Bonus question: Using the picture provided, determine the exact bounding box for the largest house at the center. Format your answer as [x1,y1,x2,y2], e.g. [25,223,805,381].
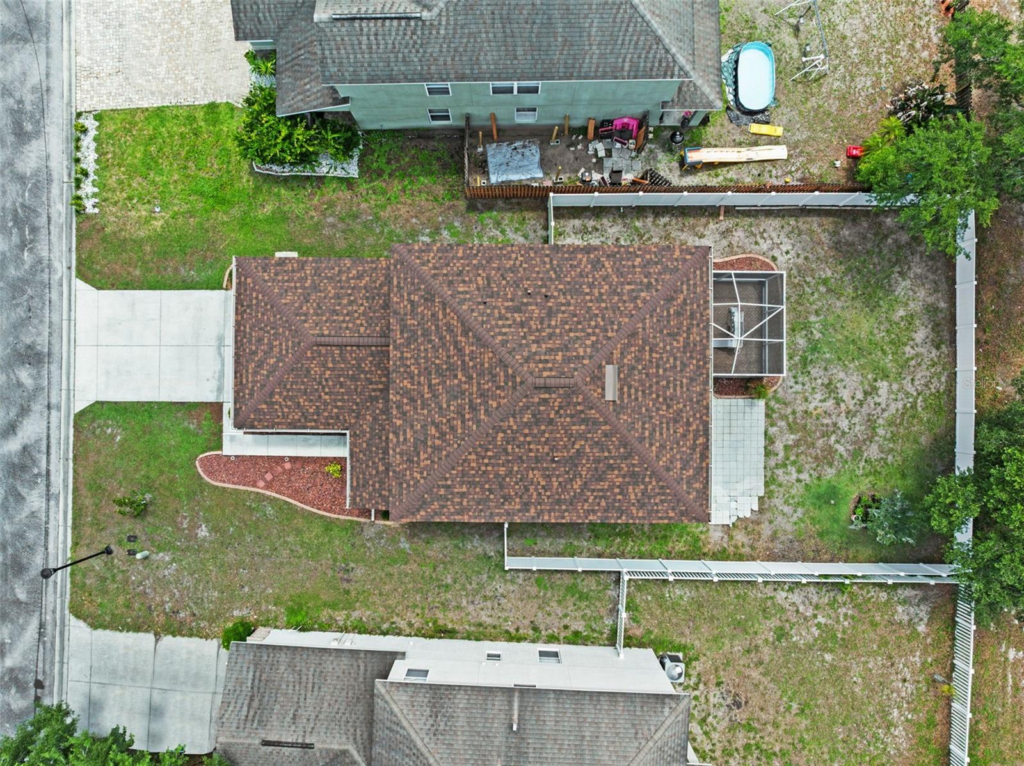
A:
[231,242,713,525]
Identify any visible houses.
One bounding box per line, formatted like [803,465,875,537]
[231,242,713,525]
[211,631,712,766]
[234,0,724,129]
